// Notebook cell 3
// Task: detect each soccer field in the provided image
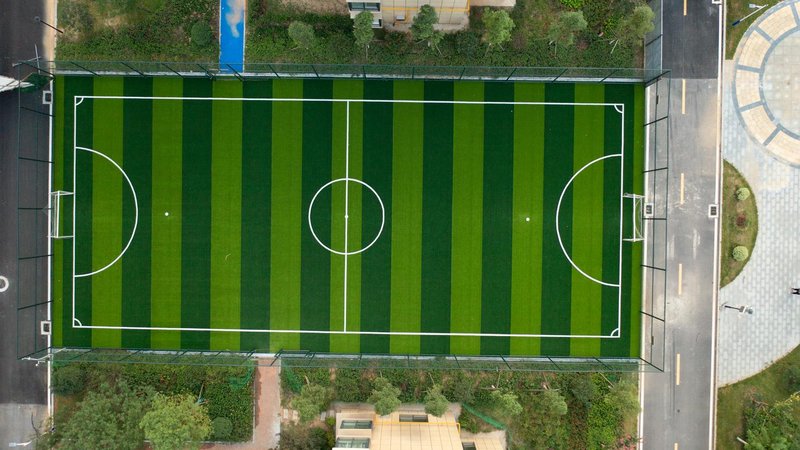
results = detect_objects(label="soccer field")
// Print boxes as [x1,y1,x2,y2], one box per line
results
[52,77,646,357]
